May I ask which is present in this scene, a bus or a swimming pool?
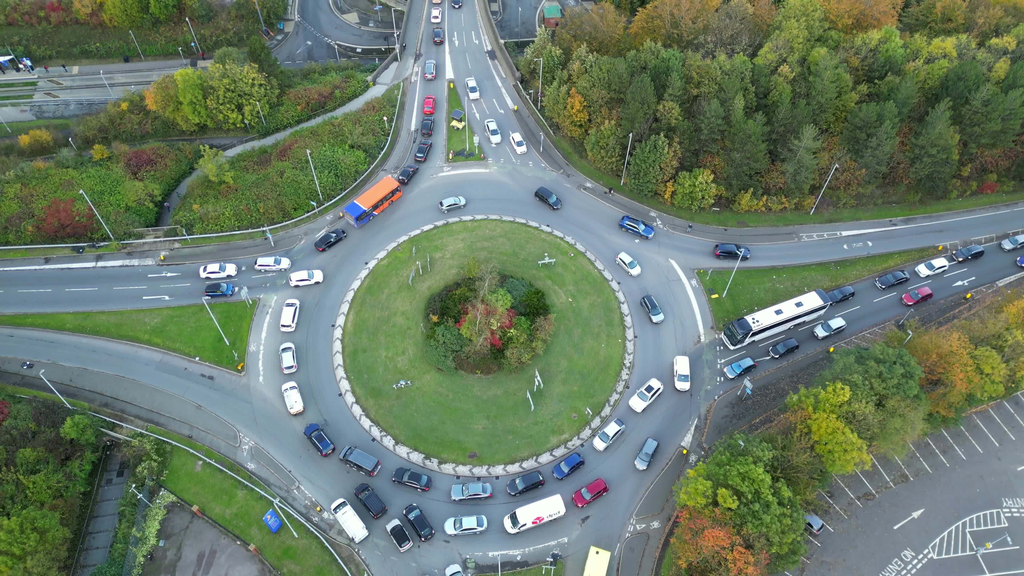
bus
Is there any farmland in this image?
No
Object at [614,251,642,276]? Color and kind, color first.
white car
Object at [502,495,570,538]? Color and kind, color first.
white van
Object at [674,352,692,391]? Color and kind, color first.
white vehicle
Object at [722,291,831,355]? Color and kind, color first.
white bus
